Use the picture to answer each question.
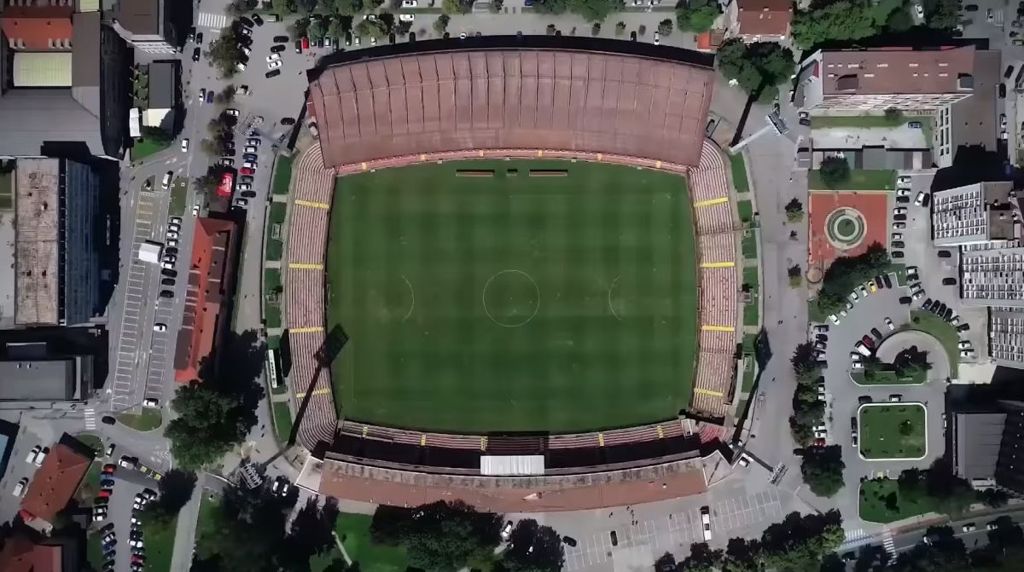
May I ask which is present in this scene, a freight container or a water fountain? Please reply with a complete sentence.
The image shows a water fountain.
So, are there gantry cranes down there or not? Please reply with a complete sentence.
No, there appears to be no gantry crane in this shot.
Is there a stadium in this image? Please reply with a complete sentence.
Yes, you can see a stadium in this photo.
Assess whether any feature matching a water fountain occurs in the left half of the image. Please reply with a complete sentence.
No, there's no water fountain to be seen in the left half of the image.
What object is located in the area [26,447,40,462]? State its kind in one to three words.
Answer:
vehicle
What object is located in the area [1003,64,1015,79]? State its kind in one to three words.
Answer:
vehicle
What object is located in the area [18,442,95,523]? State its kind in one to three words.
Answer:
house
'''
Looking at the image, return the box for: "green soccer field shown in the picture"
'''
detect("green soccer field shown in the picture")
[328,161,698,436]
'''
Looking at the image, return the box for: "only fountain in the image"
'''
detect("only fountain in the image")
[825,207,867,249]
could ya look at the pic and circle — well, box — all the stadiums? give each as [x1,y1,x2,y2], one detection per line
[280,48,744,514]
